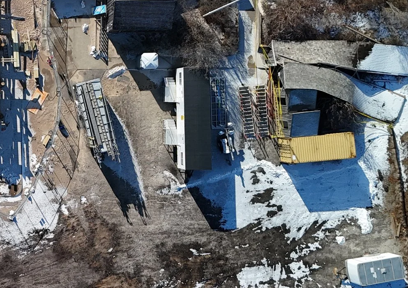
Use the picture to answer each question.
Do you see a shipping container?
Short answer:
Yes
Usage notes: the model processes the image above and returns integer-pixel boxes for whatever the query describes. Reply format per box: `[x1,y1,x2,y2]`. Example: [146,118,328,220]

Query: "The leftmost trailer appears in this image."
[72,73,123,167]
